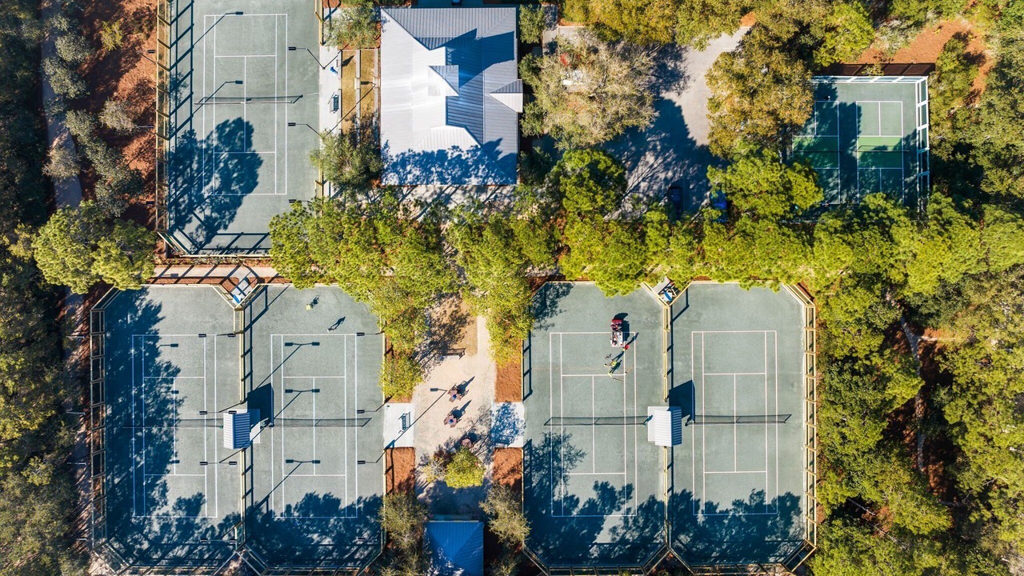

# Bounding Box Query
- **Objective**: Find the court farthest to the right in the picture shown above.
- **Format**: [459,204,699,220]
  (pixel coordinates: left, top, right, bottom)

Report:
[778,83,918,220]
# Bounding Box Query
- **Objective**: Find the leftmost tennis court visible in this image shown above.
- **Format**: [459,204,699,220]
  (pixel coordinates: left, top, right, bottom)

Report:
[106,286,245,564]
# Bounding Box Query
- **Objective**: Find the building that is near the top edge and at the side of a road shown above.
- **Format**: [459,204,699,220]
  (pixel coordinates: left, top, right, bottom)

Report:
[380,6,523,186]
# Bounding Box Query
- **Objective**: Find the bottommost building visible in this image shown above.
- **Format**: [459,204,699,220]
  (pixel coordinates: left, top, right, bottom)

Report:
[428,511,485,576]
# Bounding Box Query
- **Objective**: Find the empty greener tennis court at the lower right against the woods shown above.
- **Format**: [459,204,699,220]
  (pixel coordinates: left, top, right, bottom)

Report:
[666,283,805,565]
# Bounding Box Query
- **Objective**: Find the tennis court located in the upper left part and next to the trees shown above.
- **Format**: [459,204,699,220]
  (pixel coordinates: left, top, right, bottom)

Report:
[171,0,321,253]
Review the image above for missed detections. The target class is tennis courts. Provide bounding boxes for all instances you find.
[171,0,321,253]
[666,283,805,565]
[106,286,245,564]
[244,286,385,564]
[525,283,667,565]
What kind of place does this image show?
sports ground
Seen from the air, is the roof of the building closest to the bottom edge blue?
Yes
